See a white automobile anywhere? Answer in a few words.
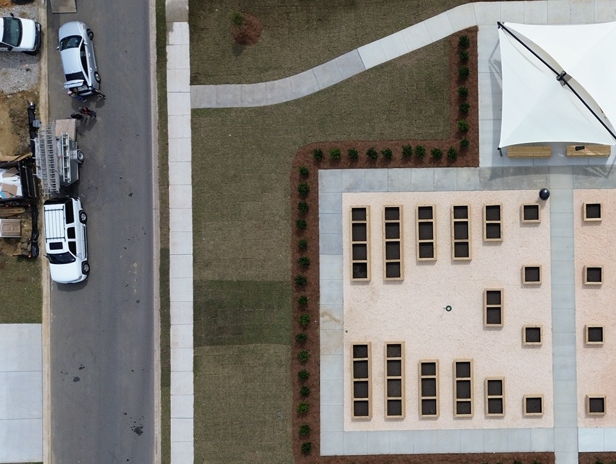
Yes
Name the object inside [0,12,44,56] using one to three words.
car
